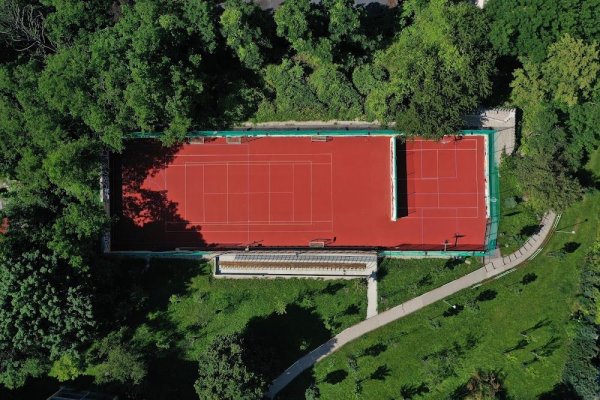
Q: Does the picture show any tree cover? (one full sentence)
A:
Yes, the picture does contain tree cover.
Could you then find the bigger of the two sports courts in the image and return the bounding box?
[110,137,392,251]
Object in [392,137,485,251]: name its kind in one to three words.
sports court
